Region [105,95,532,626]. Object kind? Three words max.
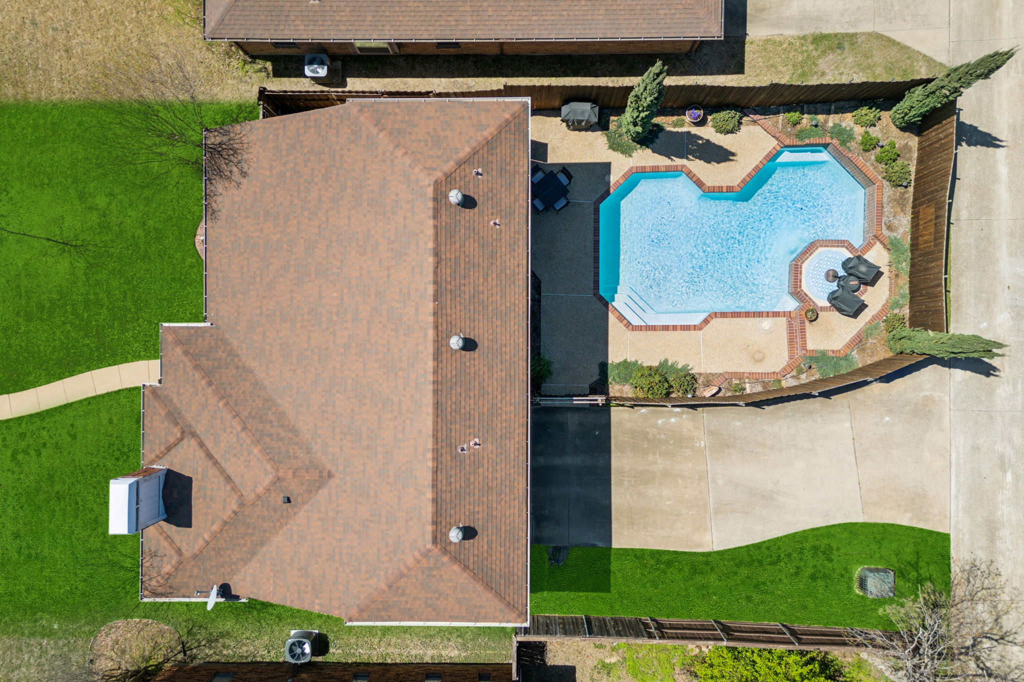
house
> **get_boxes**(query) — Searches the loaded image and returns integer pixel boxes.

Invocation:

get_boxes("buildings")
[140,661,513,682]
[105,95,532,626]
[202,0,731,55]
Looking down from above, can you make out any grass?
Yes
